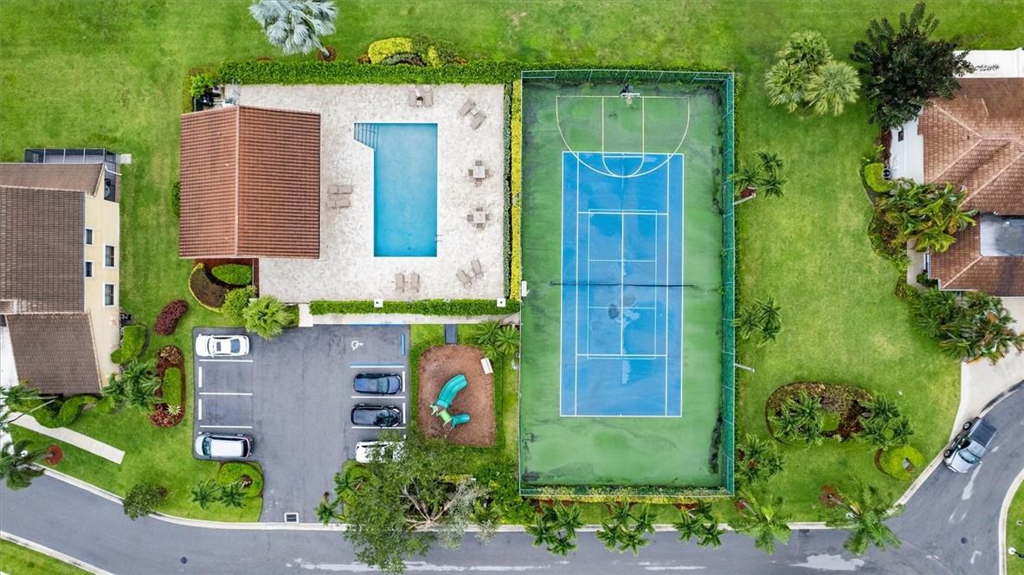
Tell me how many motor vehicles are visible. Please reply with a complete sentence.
The photo contains 6 motor vehicles.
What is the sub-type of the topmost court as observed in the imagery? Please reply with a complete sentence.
I'd identify the topmost court as a basketball court.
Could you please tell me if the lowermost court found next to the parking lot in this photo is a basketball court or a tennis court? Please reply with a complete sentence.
Looking closely, the lowermost court found next to the parking lot is a tennis court.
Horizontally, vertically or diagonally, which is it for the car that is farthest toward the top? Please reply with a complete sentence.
The car that is farthest toward the top has been laid out horizontally relative to the frame.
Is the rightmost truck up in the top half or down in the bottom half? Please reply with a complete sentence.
You can find the rightmost truck in the bottom half.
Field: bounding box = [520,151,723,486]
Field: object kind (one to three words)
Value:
tennis court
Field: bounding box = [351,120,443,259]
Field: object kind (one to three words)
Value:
swimming pool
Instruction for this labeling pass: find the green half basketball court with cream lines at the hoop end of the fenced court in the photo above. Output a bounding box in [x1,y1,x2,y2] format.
[521,82,723,177]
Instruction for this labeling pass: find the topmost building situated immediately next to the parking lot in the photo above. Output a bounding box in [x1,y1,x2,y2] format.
[178,105,321,259]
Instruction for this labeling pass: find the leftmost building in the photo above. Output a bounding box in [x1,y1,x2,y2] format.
[0,162,121,394]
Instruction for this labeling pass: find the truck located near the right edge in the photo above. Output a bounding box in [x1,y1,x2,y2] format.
[945,417,1000,475]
